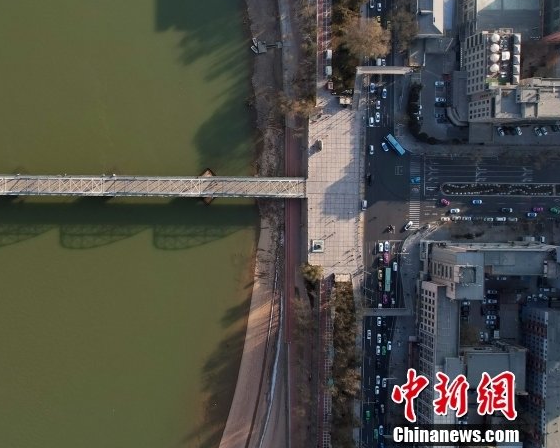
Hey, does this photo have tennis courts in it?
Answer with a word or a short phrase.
No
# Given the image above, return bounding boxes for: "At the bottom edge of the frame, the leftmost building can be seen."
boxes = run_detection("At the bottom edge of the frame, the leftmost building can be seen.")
[417,278,466,448]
